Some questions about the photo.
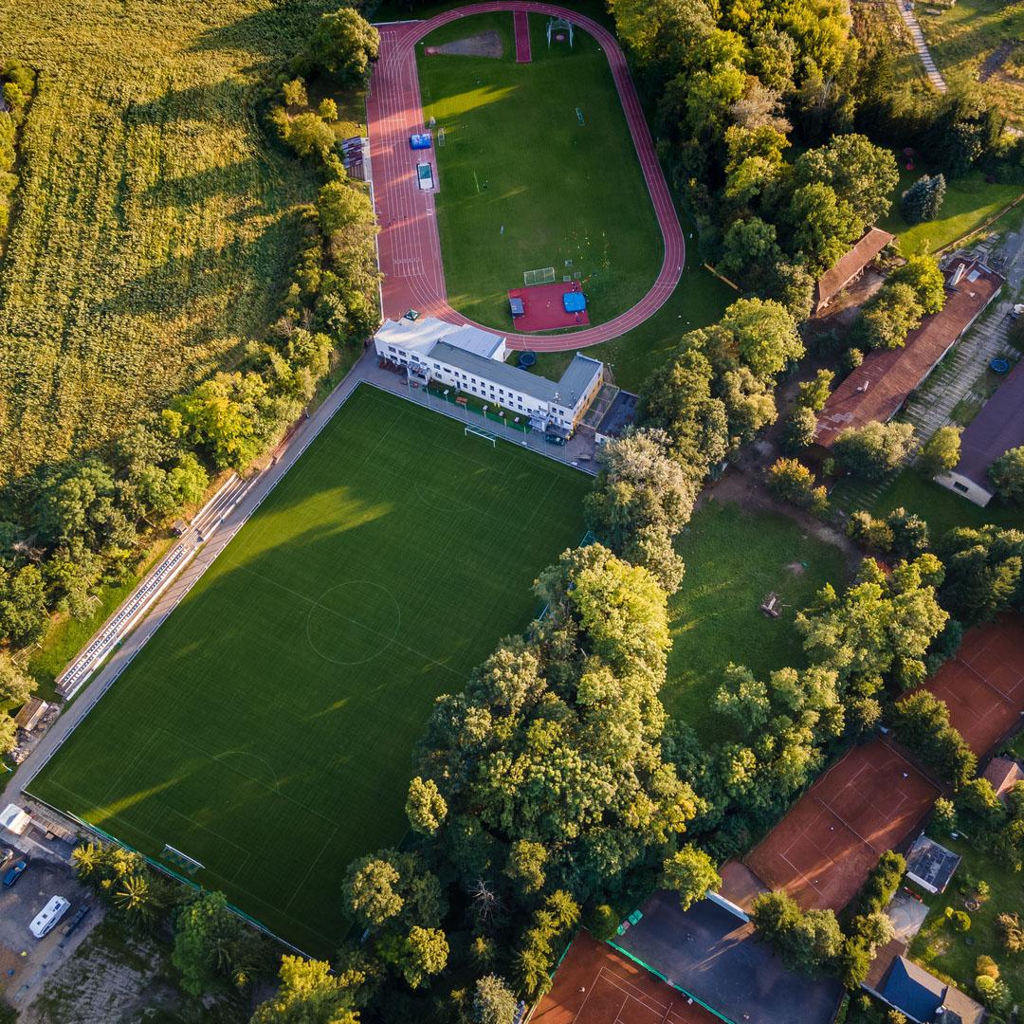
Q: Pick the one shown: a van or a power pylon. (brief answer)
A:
van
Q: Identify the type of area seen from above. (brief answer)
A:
sports ground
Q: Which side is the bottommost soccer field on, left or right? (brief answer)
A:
left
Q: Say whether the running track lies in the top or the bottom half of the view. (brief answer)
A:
top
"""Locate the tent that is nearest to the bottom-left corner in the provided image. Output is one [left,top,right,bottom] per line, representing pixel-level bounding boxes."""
[0,804,37,838]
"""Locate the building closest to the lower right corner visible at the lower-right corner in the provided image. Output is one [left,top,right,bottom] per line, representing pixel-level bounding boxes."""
[879,957,992,1024]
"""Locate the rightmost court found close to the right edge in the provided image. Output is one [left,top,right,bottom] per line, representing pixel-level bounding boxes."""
[894,609,1024,761]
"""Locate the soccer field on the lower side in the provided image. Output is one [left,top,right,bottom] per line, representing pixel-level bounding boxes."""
[27,383,606,964]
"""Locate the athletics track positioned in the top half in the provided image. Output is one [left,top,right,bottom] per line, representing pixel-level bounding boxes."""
[364,4,690,350]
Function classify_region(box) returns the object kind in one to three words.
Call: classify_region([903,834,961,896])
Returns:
shed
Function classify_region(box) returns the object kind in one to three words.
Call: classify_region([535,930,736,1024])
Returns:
tennis court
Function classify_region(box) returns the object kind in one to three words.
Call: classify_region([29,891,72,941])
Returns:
van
